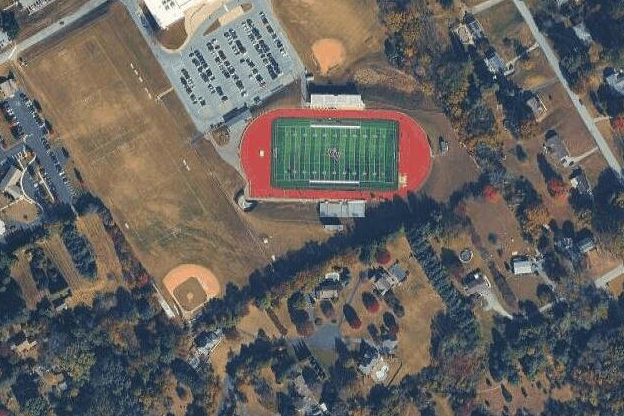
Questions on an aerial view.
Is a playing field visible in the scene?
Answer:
Yes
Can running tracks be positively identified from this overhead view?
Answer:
Yes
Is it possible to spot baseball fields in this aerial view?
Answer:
Yes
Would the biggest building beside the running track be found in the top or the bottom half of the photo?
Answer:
top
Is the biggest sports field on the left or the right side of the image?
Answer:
left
